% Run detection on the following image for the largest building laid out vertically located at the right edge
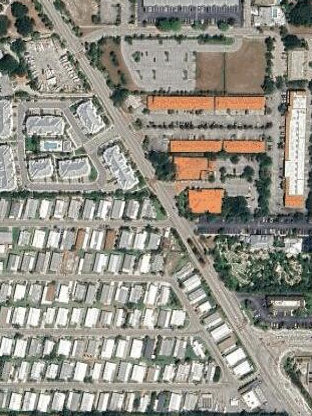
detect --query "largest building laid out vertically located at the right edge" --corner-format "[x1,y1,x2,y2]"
[290,93,305,195]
